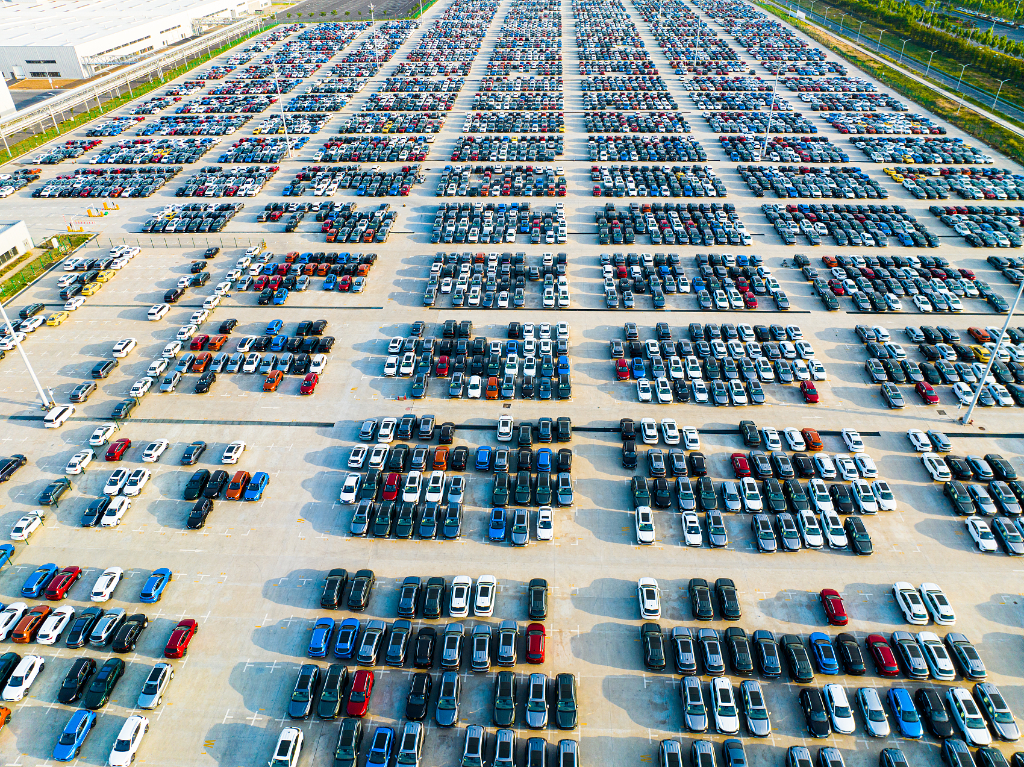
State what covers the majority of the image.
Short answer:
paved ground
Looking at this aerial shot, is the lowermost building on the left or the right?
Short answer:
left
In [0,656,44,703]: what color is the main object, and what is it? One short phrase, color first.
white car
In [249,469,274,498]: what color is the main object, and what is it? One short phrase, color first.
blue car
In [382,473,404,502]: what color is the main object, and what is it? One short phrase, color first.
red car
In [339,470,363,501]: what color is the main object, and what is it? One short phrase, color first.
white car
